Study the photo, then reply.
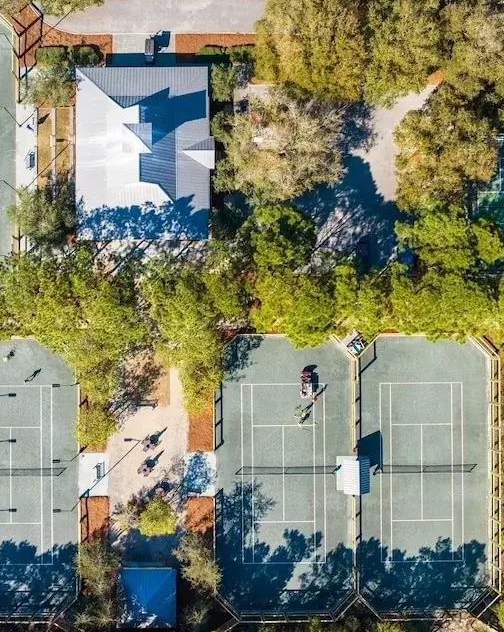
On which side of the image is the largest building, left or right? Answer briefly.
left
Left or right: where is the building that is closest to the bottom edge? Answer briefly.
left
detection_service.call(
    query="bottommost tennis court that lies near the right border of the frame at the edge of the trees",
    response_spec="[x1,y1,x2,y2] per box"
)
[354,337,489,610]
